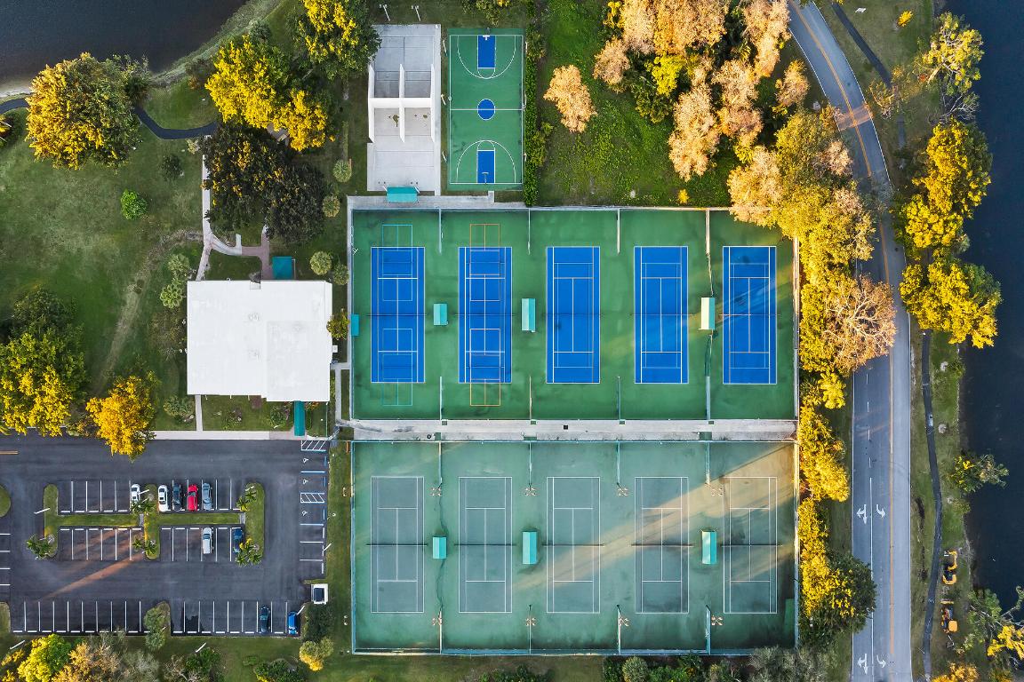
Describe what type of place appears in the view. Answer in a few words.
sports ground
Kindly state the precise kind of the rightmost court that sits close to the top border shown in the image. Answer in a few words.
basketball court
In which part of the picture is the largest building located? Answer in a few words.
left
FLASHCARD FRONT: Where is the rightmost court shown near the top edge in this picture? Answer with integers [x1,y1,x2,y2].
[448,28,524,191]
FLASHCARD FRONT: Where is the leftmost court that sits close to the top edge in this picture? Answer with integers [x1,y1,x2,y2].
[372,24,441,143]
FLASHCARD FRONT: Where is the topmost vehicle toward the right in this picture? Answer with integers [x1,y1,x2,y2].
[943,551,959,587]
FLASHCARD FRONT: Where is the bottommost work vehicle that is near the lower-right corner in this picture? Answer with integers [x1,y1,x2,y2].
[941,602,960,647]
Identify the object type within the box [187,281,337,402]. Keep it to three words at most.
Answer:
building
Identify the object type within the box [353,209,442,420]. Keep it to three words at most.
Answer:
tennis court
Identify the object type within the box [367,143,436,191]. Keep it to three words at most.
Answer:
sports court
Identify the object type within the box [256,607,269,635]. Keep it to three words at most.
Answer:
vehicle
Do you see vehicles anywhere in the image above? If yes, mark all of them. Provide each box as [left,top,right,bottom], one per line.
[256,607,269,635]
[198,483,211,511]
[168,483,182,511]
[285,611,298,639]
[154,484,168,512]
[198,528,212,557]
[229,530,242,554]
[943,551,959,587]
[183,484,197,512]
[126,483,140,510]
[941,602,960,647]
